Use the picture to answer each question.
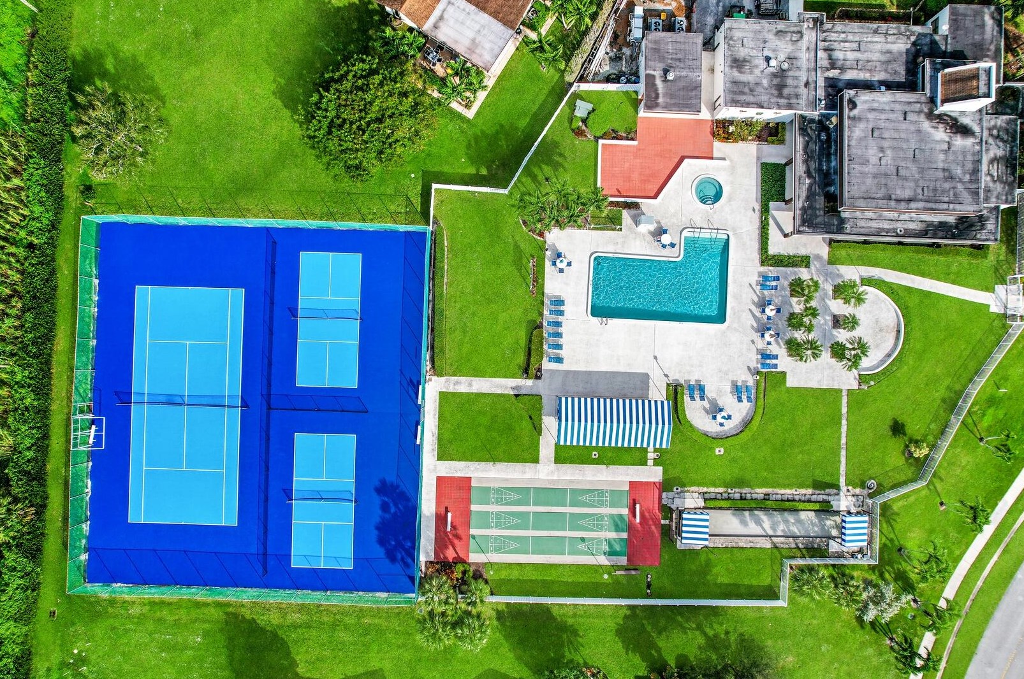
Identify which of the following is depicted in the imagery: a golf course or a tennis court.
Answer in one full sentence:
Looking from above, you can make out a tennis court.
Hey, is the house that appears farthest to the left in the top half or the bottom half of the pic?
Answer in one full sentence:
The top half of the photo is where the house that appears farthest to the left is.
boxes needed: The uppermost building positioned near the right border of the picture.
[714,4,1024,243]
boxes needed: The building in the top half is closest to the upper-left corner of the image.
[376,0,545,75]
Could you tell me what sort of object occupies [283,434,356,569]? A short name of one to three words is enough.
sports court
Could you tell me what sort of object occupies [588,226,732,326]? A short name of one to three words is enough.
swimming pool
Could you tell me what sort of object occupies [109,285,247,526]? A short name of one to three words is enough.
tennis court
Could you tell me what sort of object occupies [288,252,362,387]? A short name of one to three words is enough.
sports court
